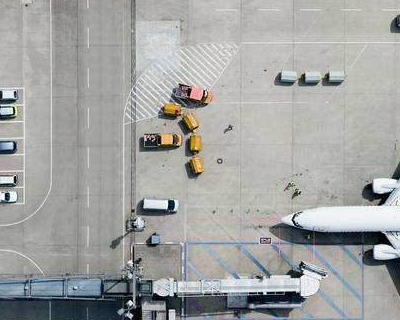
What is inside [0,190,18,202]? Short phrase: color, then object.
white vehicle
